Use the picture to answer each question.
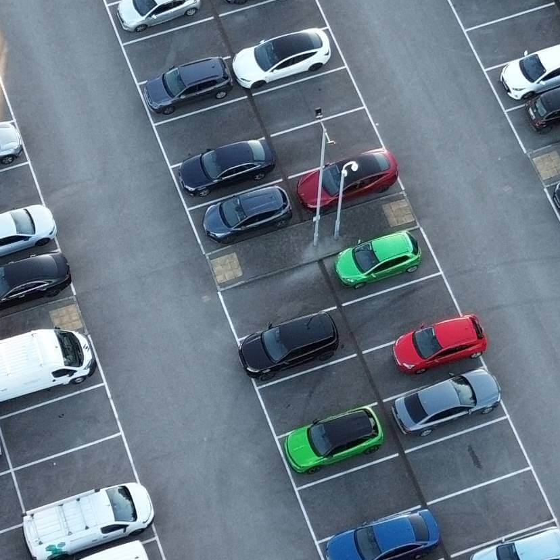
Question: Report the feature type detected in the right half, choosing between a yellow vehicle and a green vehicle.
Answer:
green vehicle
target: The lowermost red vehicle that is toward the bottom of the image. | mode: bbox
[391,313,491,377]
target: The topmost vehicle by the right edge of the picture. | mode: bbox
[497,43,560,99]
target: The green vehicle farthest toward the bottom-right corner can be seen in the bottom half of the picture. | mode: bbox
[283,408,388,477]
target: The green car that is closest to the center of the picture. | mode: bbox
[333,226,424,287]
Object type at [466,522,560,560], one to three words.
car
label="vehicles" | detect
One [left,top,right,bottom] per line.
[201,185,296,247]
[0,206,59,259]
[389,365,504,435]
[235,307,344,378]
[523,88,560,137]
[176,139,279,202]
[19,474,157,560]
[0,121,25,162]
[0,322,99,404]
[283,408,388,477]
[0,247,76,310]
[143,56,235,118]
[497,43,560,99]
[115,0,203,32]
[391,313,491,377]
[333,226,424,287]
[325,504,445,560]
[229,26,335,90]
[466,522,560,560]
[295,145,402,212]
[65,535,151,560]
